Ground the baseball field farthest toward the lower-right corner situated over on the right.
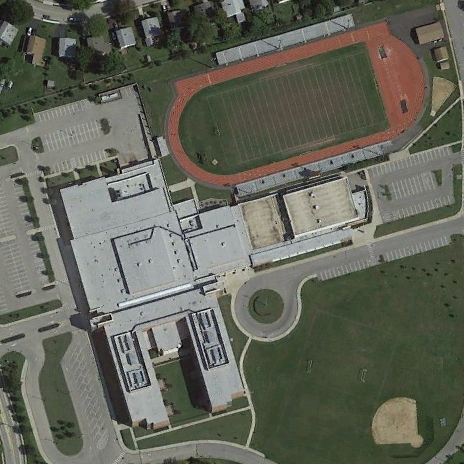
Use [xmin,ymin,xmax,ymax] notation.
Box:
[372,397,424,448]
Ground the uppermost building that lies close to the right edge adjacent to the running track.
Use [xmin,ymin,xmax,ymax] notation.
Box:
[415,25,444,44]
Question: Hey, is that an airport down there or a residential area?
residential area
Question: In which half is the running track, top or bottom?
top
